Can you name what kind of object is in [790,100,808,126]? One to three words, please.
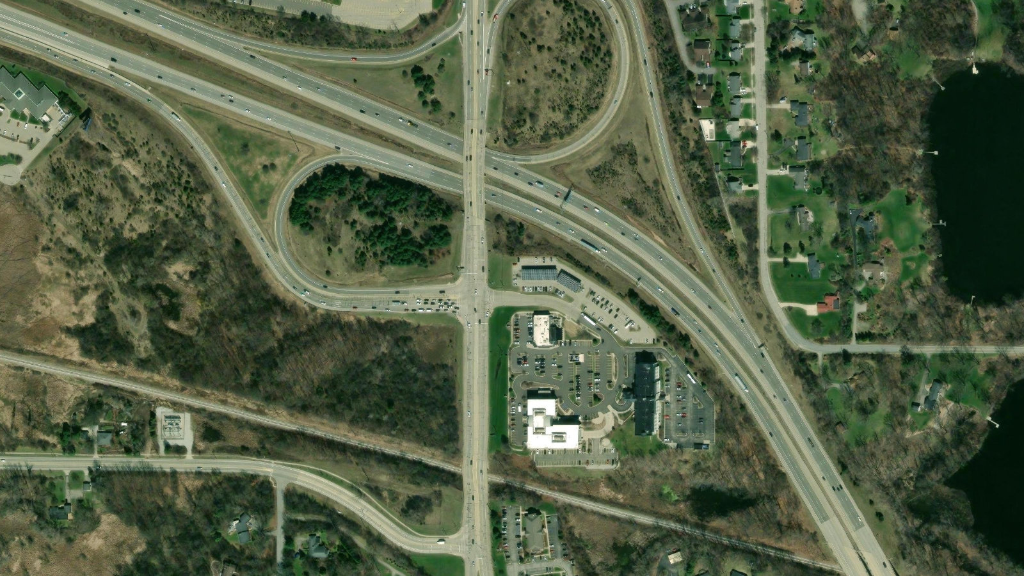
house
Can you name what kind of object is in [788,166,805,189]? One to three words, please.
house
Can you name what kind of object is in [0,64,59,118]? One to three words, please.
building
